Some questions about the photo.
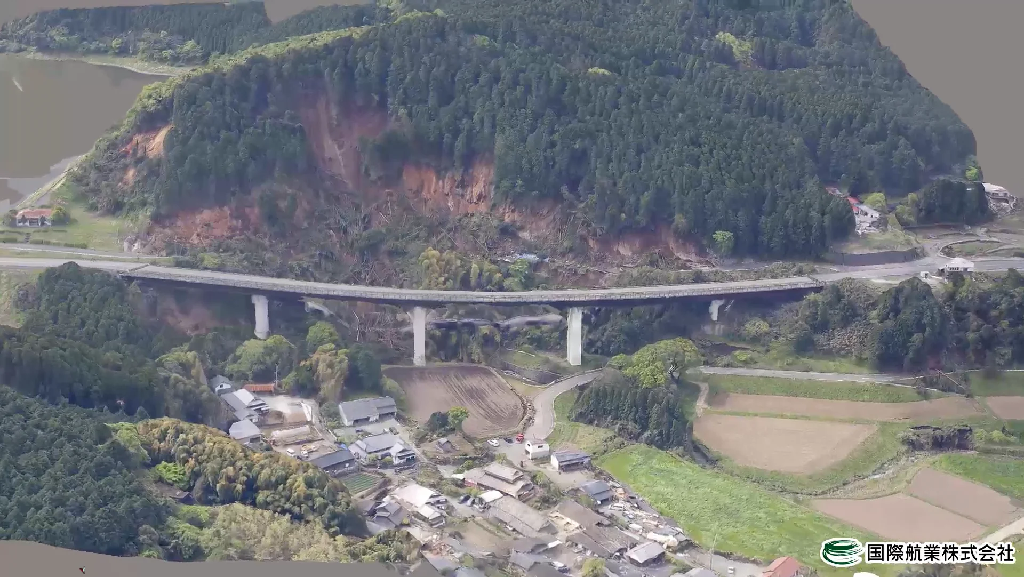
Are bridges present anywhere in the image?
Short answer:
Yes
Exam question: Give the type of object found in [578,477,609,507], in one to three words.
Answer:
house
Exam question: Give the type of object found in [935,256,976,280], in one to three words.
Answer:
house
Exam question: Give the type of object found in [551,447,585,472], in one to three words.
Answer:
building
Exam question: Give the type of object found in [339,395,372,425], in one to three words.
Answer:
barn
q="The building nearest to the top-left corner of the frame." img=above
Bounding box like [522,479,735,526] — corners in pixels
[11,208,57,227]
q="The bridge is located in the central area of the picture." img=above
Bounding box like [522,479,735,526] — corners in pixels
[117,261,826,368]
